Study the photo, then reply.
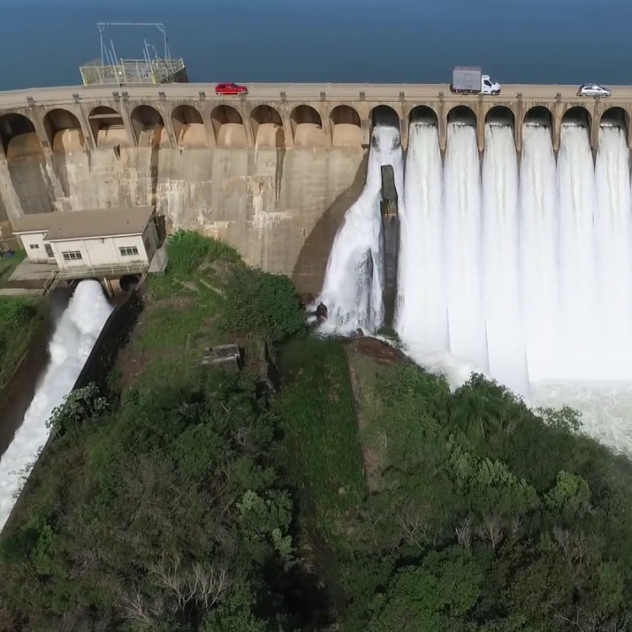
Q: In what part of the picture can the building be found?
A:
left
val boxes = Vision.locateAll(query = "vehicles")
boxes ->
[215,80,251,95]
[575,82,610,98]
[452,67,502,97]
